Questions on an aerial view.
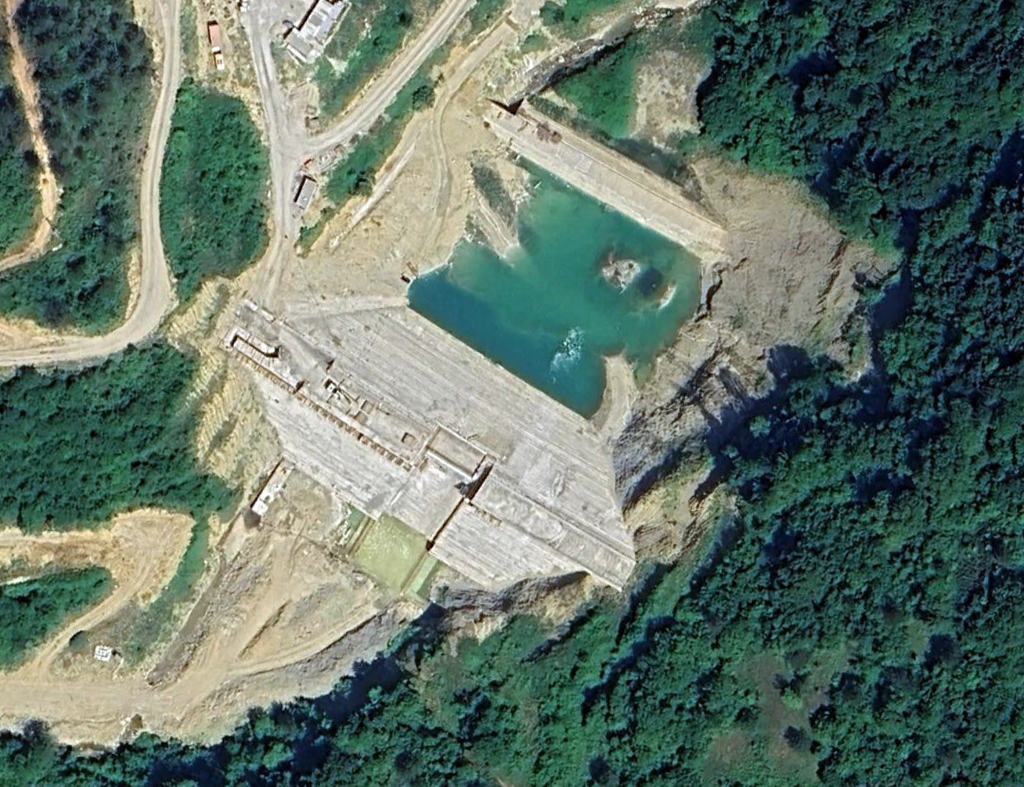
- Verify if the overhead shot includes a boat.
No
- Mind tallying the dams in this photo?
2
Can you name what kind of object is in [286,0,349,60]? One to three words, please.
building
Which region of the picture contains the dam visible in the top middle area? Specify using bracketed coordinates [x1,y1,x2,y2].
[483,100,721,248]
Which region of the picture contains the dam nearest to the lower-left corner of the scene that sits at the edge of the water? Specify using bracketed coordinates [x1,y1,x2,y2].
[223,298,638,593]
